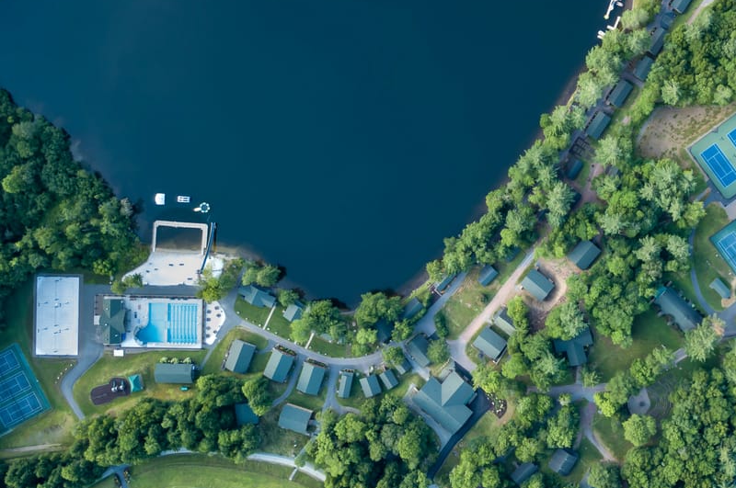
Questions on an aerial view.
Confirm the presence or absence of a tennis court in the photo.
Yes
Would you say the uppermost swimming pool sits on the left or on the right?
left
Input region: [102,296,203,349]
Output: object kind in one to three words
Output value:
swimming pool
